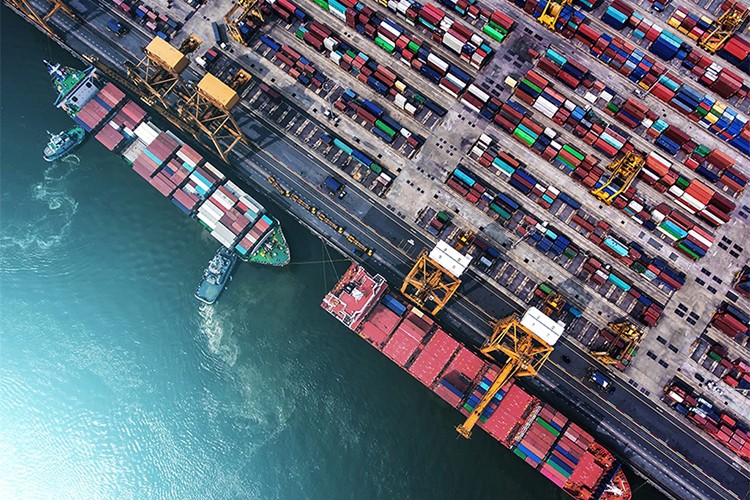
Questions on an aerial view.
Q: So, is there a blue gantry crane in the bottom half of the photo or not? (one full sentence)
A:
No, there is no blue gantry crane in the bottom half of the photo.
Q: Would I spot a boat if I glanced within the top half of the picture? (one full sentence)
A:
Yes, a boat shows up within the top half of the picture.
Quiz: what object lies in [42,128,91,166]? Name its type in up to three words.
boat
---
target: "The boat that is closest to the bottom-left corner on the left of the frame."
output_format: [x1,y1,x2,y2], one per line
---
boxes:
[194,251,238,306]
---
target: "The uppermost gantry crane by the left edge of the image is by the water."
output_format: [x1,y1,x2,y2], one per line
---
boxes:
[15,0,83,43]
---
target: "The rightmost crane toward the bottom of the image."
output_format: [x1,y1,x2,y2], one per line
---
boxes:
[590,316,655,371]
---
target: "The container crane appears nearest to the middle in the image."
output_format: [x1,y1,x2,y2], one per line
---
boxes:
[396,228,478,319]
